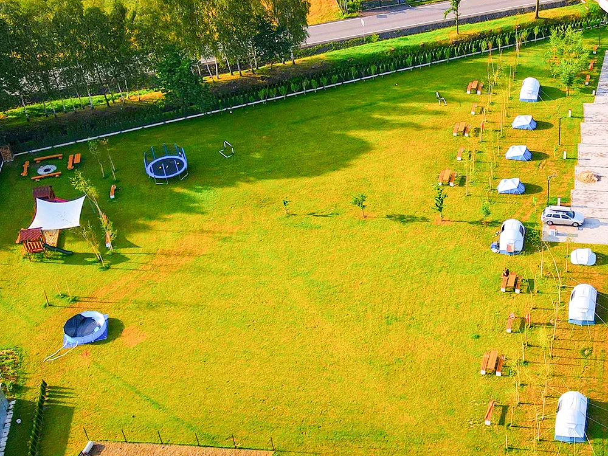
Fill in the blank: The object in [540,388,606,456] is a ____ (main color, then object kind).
white tent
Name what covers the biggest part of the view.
grass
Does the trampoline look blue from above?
Yes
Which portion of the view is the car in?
right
